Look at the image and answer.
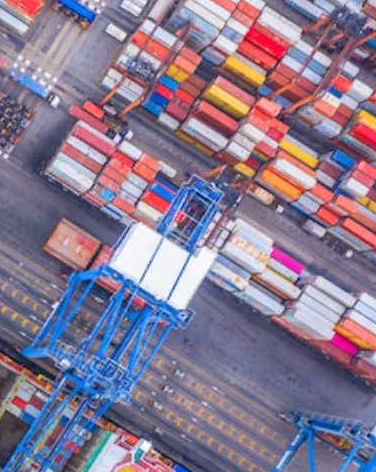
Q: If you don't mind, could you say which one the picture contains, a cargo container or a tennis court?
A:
cargo container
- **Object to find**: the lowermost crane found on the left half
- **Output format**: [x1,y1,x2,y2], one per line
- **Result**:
[0,160,231,472]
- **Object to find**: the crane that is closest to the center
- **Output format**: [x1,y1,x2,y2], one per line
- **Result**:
[177,159,261,251]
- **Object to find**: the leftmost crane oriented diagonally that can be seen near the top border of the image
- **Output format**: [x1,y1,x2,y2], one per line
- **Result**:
[95,10,194,122]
